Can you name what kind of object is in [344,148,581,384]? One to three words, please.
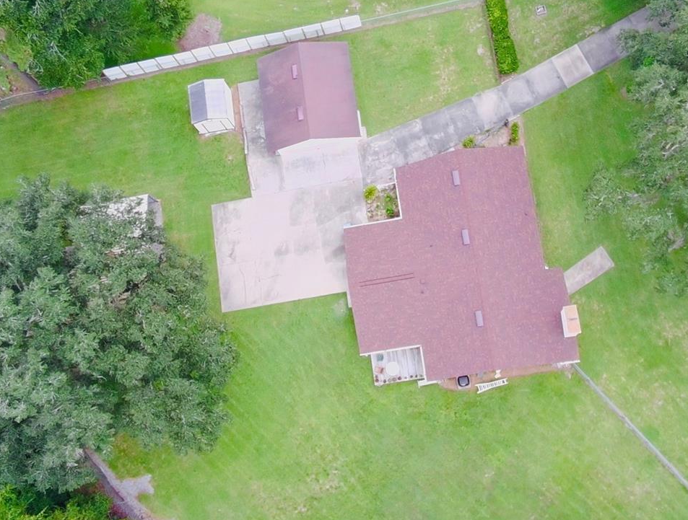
house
